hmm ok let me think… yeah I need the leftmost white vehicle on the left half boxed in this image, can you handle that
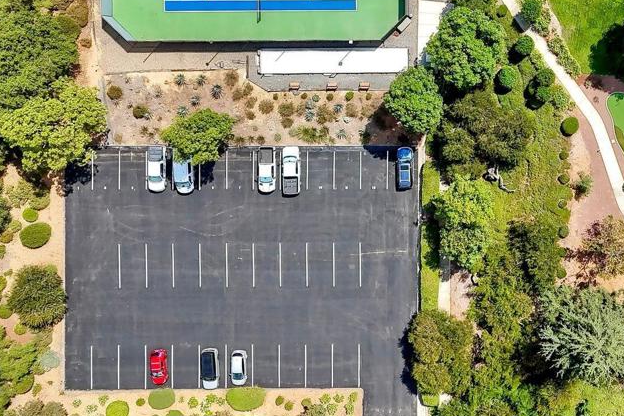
[145,146,167,192]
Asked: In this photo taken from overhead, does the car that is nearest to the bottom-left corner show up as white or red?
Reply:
red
